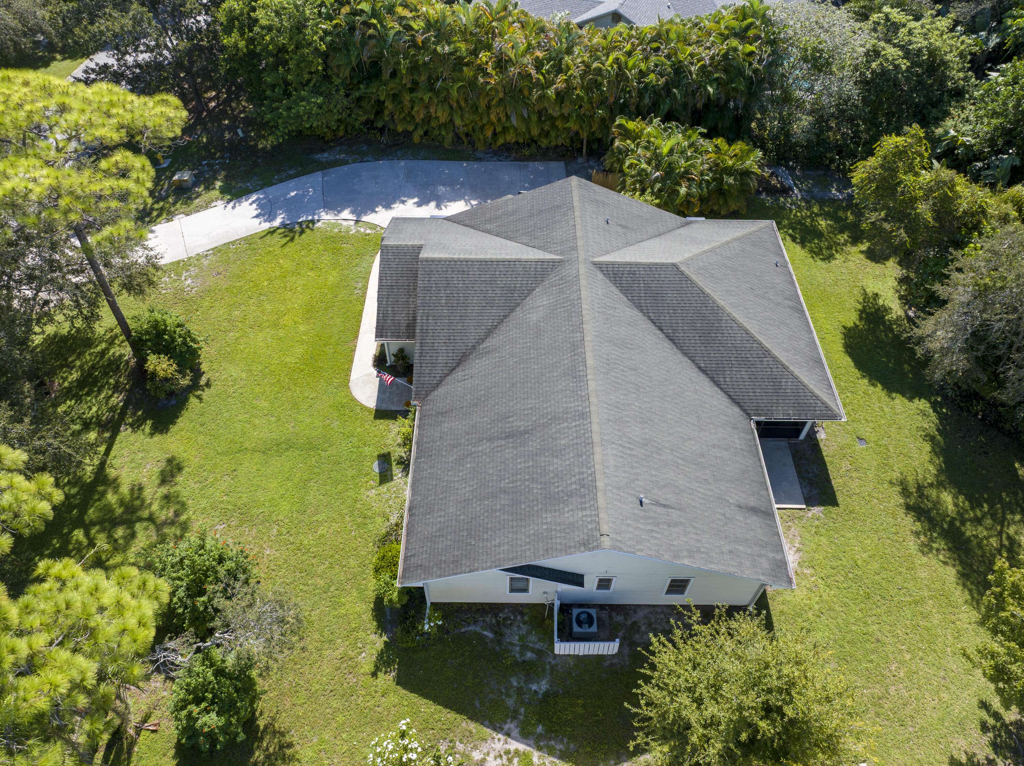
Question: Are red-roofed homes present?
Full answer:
No, no red-roofed home is visible in the view.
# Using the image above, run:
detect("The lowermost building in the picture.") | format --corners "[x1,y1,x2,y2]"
[374,172,851,626]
